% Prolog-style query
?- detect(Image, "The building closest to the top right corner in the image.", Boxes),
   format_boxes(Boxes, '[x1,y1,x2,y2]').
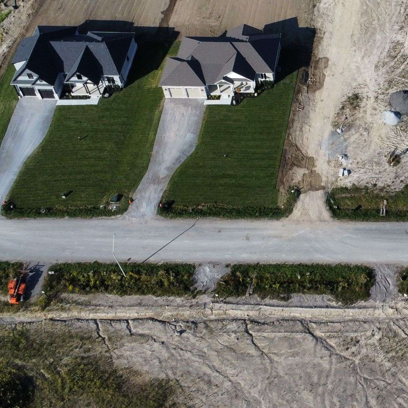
[158,23,281,99]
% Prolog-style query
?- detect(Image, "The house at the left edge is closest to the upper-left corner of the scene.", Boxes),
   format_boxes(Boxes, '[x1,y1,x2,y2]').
[6,22,138,99]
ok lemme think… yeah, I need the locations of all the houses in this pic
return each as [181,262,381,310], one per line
[158,23,281,99]
[6,22,138,99]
